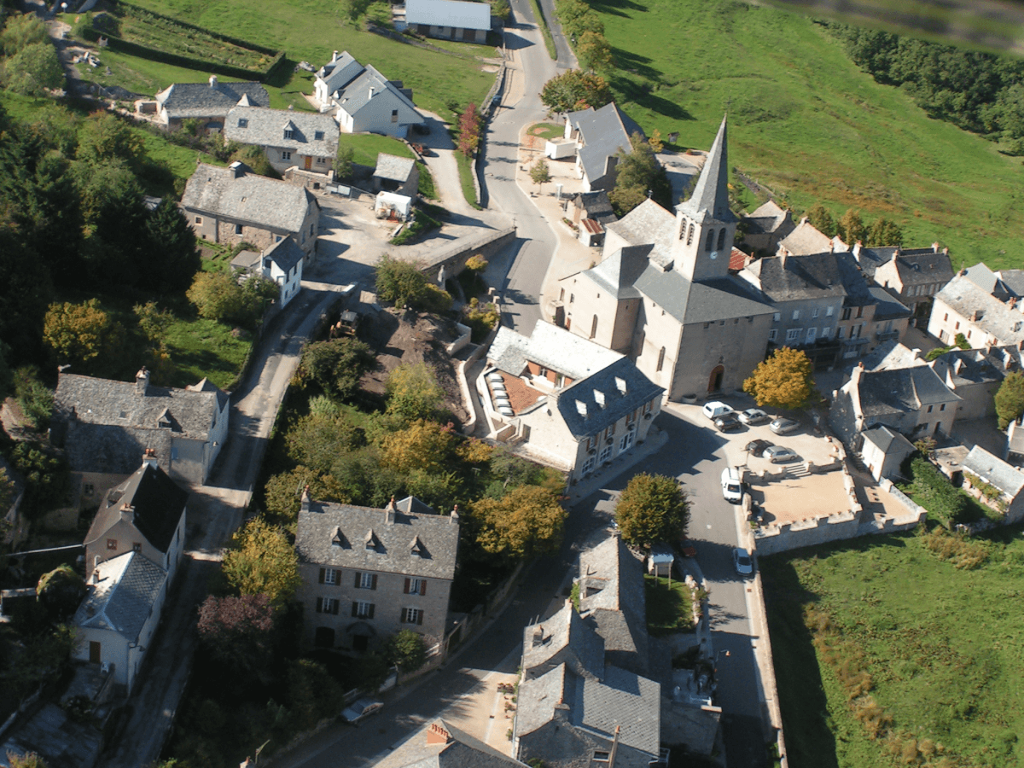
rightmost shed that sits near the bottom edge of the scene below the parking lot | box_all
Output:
[658,698,719,768]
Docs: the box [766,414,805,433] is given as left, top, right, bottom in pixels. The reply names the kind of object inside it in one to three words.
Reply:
car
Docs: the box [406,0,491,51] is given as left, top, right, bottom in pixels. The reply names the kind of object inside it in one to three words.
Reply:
barn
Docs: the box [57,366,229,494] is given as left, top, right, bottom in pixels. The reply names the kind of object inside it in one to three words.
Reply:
house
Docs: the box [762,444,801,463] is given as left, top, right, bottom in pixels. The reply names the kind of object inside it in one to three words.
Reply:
car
